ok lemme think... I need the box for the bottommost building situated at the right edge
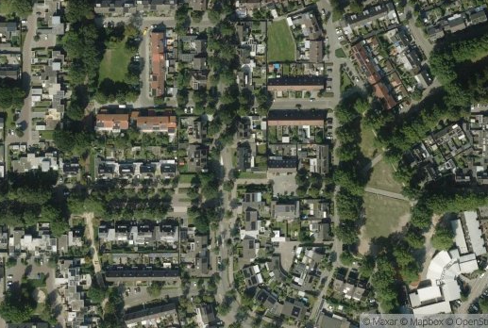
[409,211,487,328]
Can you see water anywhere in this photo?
No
